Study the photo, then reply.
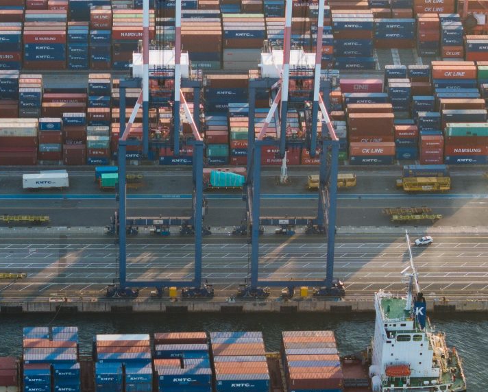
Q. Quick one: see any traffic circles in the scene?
No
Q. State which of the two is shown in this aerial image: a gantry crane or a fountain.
gantry crane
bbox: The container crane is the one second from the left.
[230,0,349,295]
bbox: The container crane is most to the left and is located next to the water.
[103,0,217,295]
